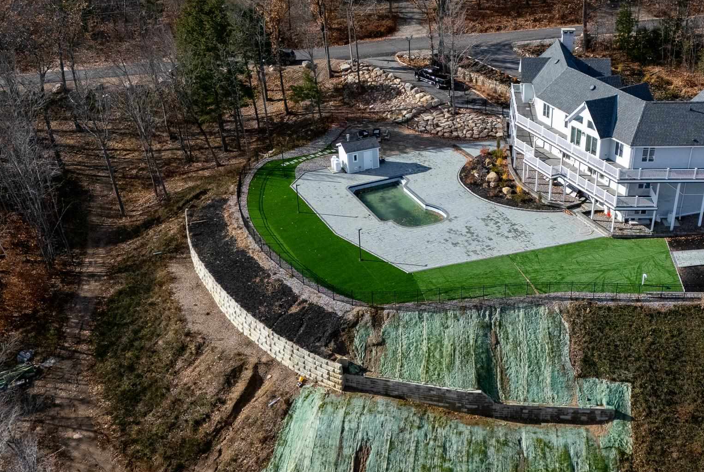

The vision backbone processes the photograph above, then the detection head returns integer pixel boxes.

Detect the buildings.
[516,25,704,217]
[337,128,381,173]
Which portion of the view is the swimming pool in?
center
